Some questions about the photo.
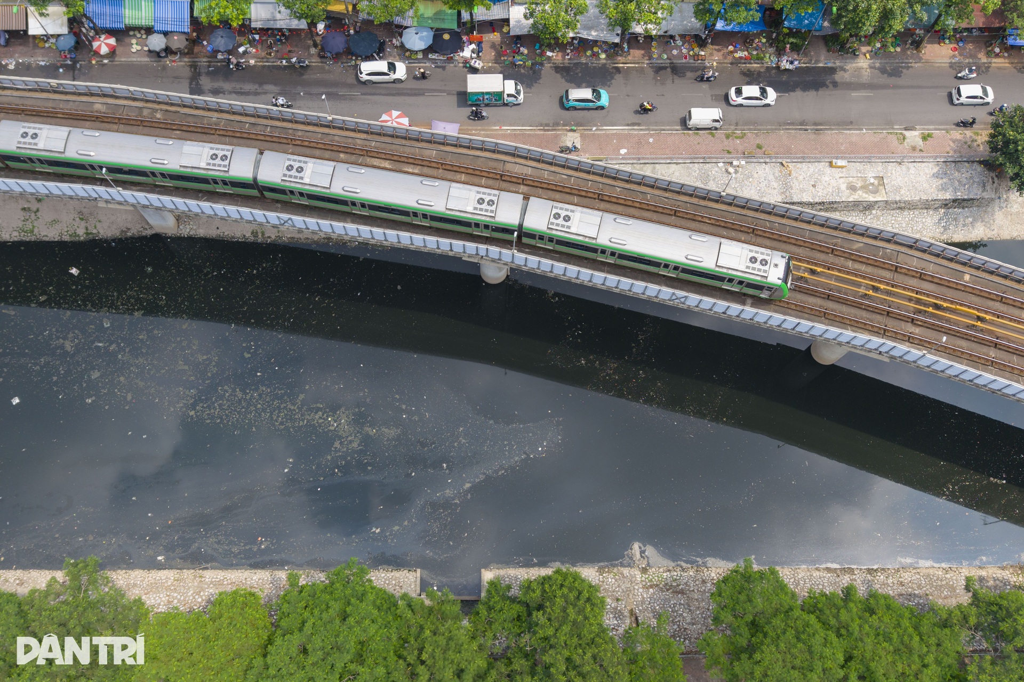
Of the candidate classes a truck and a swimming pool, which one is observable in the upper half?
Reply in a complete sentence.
What appears in the upper half is a truck.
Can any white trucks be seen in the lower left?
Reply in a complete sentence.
No, no white truck appears in the lower left.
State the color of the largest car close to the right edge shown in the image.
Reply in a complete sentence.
The color of the largest car close to the right edge is white.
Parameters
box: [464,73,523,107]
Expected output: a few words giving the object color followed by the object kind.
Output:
white truck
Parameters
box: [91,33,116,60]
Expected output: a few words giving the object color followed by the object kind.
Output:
white umbrella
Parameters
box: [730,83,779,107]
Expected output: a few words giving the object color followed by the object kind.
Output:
white car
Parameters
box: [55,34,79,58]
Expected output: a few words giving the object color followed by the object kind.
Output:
blue umbrella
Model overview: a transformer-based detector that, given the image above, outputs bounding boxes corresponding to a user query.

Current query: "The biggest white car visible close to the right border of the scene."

[954,82,997,106]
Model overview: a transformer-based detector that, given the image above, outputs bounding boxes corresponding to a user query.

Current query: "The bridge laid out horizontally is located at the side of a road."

[0,92,1024,409]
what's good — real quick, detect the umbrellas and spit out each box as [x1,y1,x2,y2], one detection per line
[432,29,462,58]
[55,34,79,58]
[146,34,167,58]
[348,31,380,58]
[402,27,433,53]
[165,33,189,58]
[91,33,116,60]
[431,115,460,133]
[321,32,348,59]
[209,29,236,57]
[379,106,409,124]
